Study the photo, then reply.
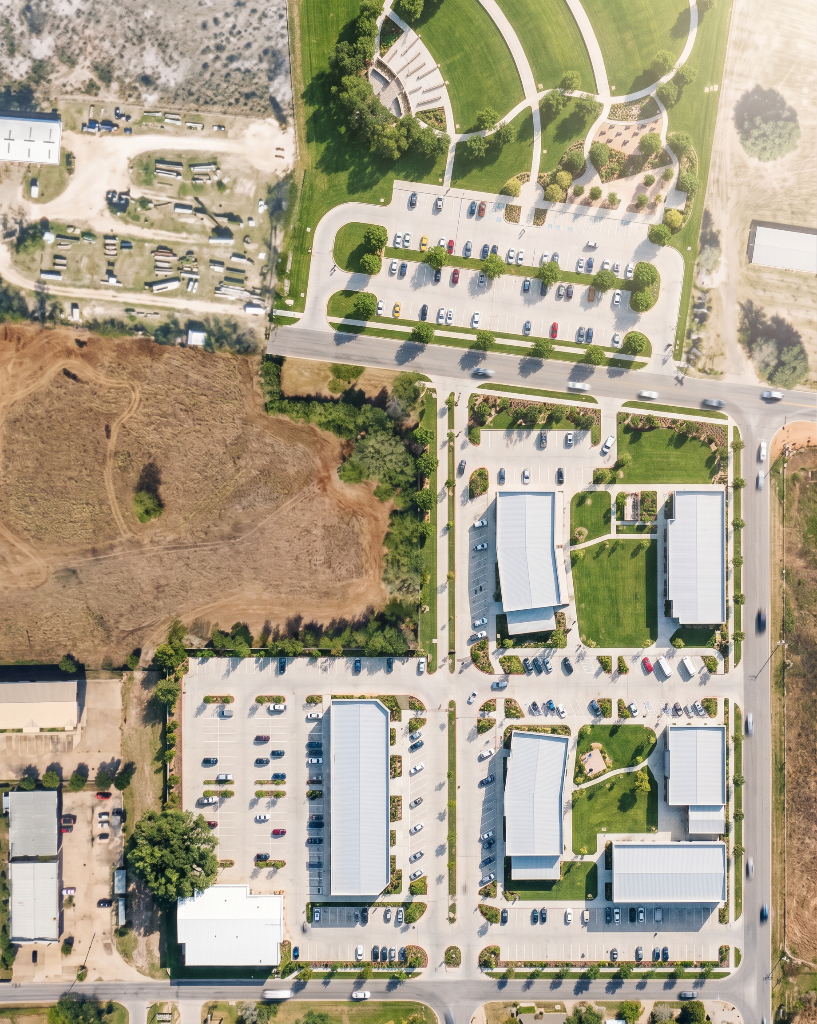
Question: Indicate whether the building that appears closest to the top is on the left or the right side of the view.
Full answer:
It is on the left.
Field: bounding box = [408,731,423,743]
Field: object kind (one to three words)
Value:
vehicle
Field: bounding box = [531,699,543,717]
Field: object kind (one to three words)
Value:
vehicle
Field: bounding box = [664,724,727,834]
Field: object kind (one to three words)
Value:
building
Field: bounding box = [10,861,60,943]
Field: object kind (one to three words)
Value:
building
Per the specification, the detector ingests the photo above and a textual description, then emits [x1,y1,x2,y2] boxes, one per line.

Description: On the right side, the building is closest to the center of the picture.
[496,491,570,635]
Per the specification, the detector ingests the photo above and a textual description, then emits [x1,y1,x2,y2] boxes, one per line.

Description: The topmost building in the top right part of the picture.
[751,226,817,274]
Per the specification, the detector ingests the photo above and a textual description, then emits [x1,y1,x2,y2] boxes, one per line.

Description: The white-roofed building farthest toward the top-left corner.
[0,117,62,167]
